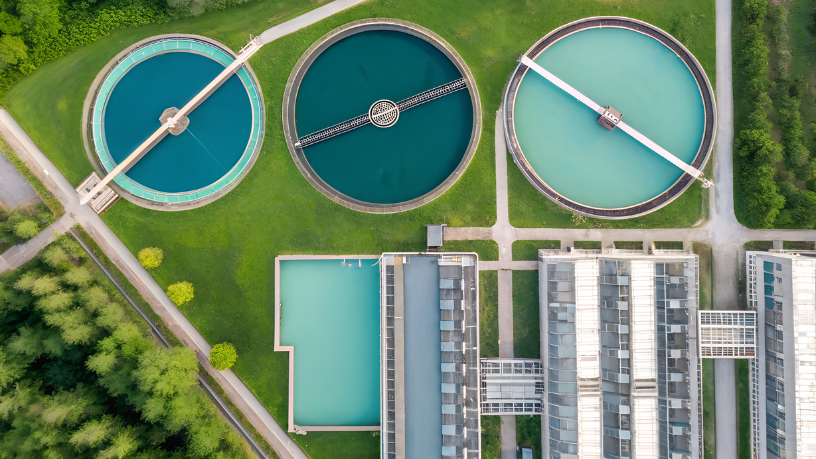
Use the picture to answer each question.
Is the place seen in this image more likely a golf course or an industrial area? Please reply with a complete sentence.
The picture captures an industrial area.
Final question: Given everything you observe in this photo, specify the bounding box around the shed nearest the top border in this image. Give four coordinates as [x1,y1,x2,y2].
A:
[426,225,446,252]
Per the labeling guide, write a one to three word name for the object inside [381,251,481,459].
building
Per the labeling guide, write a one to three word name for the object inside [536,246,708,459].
building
